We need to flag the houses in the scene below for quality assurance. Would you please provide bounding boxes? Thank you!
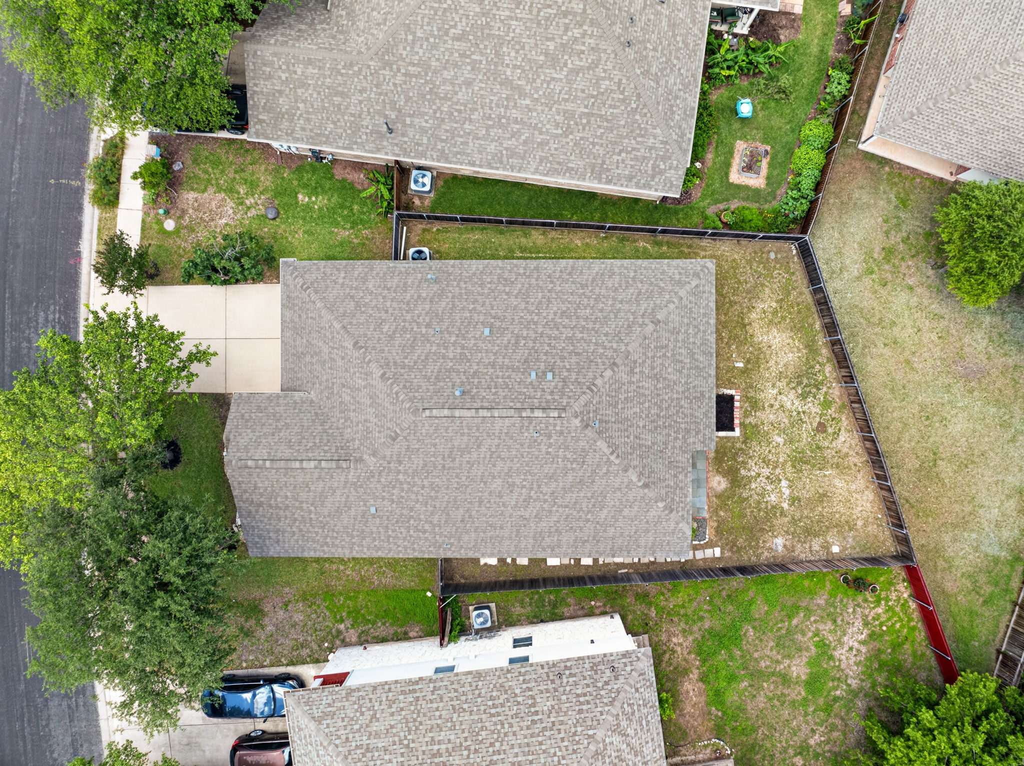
[858,0,1024,196]
[221,257,715,557]
[281,613,664,766]
[240,0,783,201]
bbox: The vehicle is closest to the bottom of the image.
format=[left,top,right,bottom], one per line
[232,732,290,766]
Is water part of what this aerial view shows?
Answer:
No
